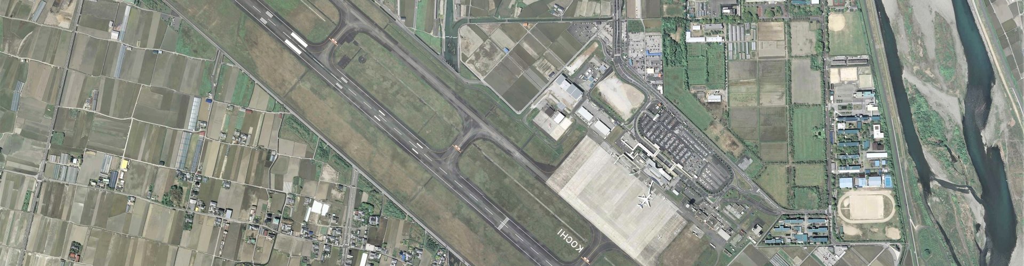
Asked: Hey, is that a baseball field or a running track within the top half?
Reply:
baseball field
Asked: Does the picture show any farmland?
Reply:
Yes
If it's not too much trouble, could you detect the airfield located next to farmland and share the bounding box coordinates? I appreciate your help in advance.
[166,0,740,266]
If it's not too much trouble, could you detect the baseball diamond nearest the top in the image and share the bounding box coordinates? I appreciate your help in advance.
[828,11,868,54]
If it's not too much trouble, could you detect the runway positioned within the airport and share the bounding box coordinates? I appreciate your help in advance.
[236,0,563,266]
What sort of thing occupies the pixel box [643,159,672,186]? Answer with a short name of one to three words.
building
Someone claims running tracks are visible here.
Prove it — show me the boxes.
[831,189,905,241]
